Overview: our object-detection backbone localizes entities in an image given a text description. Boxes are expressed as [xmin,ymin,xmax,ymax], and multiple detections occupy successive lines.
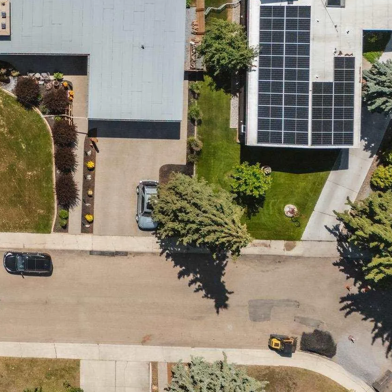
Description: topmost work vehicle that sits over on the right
[272,332,303,353]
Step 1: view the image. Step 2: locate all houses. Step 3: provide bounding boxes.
[231,0,392,149]
[0,0,185,121]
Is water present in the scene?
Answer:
No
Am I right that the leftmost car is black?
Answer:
Yes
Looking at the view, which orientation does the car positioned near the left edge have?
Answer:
from side to side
